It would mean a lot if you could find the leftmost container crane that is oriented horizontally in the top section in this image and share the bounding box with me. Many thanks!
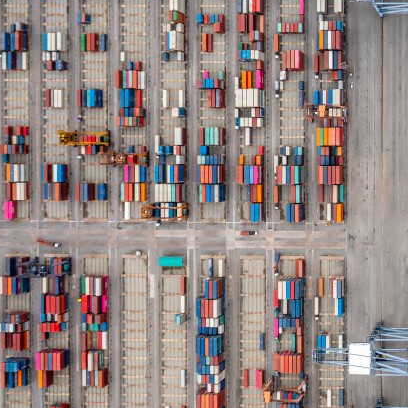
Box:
[55,129,109,147]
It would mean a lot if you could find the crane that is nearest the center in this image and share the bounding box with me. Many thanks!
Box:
[137,205,188,224]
